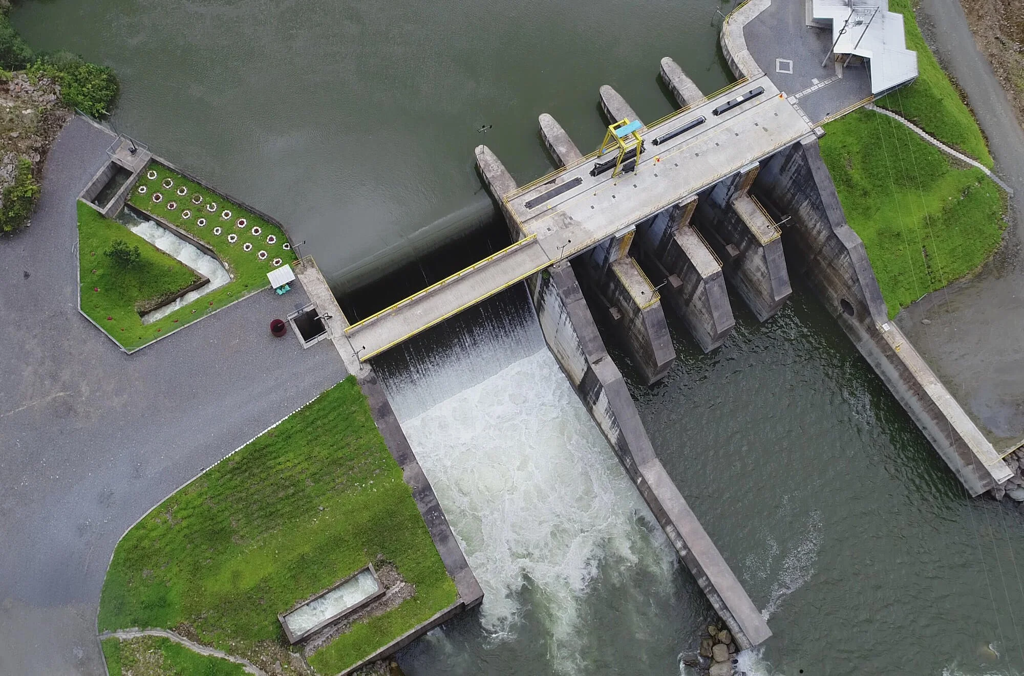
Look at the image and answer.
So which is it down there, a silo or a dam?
dam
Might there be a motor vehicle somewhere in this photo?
No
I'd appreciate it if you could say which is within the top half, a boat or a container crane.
container crane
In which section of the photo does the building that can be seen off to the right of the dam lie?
top right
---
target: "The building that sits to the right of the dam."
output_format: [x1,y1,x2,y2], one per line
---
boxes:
[806,0,921,103]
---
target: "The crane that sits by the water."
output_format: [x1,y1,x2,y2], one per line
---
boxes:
[597,114,645,178]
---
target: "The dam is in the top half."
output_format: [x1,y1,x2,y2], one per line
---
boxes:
[507,58,811,382]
